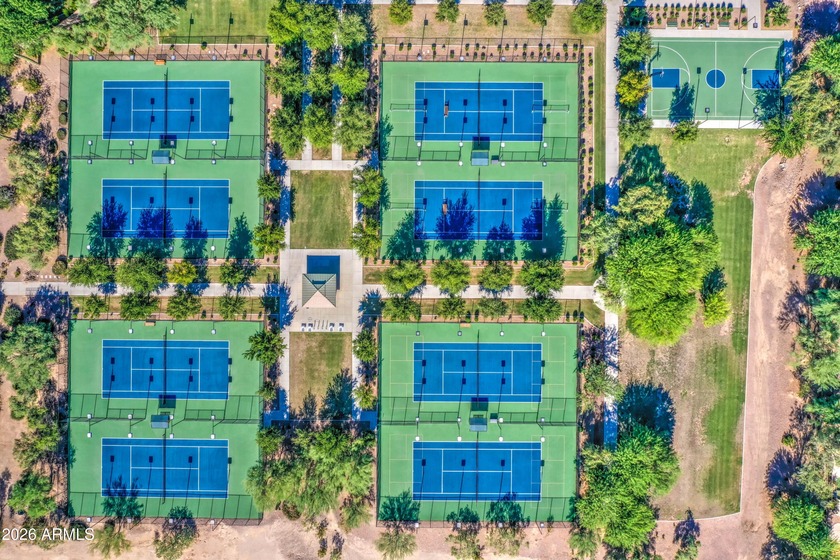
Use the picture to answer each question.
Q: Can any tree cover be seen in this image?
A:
Yes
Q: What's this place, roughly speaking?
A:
sports ground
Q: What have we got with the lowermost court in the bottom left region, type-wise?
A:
tennis court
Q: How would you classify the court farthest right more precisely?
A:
basketball court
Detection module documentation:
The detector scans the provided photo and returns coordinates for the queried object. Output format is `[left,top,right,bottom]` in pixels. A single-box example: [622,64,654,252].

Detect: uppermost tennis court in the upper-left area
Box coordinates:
[69,61,265,158]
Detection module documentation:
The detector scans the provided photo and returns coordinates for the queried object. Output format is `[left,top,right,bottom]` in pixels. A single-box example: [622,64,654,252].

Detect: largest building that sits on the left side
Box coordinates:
[302,274,336,307]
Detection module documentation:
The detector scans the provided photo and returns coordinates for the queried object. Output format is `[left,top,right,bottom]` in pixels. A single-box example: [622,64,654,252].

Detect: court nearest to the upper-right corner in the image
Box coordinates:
[648,38,783,120]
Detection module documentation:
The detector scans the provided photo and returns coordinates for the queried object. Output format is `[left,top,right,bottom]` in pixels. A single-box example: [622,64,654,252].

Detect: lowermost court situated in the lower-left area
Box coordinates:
[69,419,264,517]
